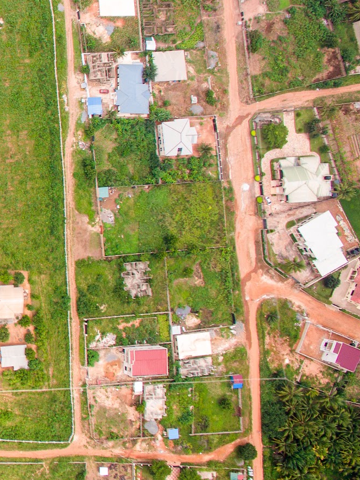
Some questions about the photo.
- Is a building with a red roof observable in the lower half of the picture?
Yes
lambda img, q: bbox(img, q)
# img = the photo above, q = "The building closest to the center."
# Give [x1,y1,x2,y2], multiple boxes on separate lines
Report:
[120,261,150,297]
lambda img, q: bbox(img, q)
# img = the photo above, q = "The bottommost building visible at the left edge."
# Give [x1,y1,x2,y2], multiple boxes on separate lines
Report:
[0,345,29,371]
